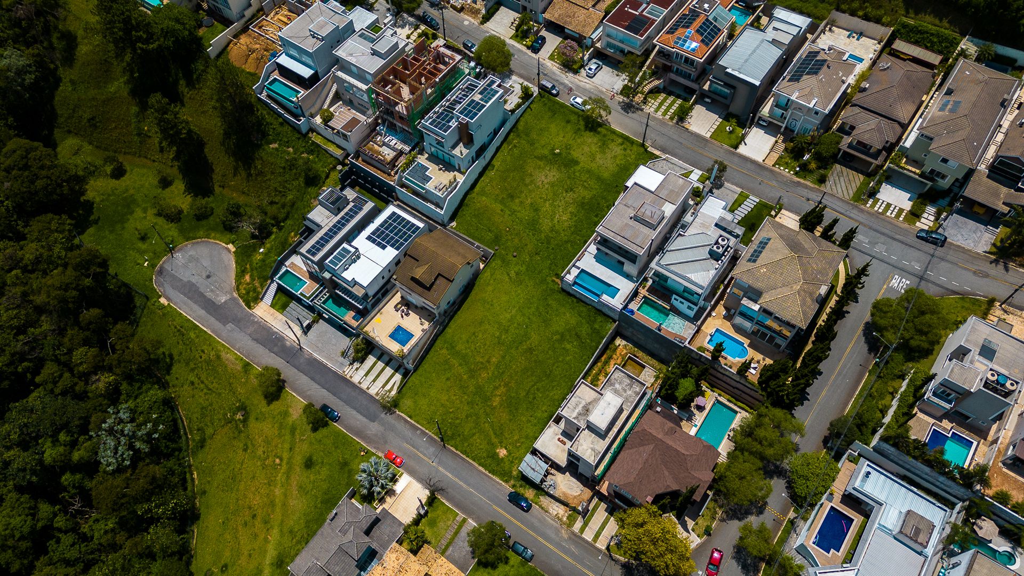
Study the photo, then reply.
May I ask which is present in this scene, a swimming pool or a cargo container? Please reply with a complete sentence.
Looking from above, you can make out a swimming pool.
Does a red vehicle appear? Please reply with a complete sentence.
Yes, there's a red vehicle here.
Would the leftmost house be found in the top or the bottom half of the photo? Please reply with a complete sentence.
Seen from above, the leftmost house lies in the top half of the view.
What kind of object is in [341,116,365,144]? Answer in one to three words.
shed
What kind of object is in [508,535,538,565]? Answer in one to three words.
vehicle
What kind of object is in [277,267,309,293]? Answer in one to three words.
swimming pool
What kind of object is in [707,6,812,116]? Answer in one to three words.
house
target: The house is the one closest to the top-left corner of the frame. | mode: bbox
[205,0,265,36]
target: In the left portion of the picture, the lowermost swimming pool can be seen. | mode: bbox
[384,321,419,350]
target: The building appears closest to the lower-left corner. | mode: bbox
[285,481,404,576]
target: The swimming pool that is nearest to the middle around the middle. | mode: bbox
[571,267,621,301]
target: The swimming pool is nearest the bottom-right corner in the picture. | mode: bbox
[950,527,1020,569]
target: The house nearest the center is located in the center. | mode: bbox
[392,228,483,319]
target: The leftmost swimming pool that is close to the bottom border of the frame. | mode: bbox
[808,502,860,559]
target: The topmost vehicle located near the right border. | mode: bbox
[973,202,988,216]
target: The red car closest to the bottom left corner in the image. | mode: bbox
[381,447,405,467]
